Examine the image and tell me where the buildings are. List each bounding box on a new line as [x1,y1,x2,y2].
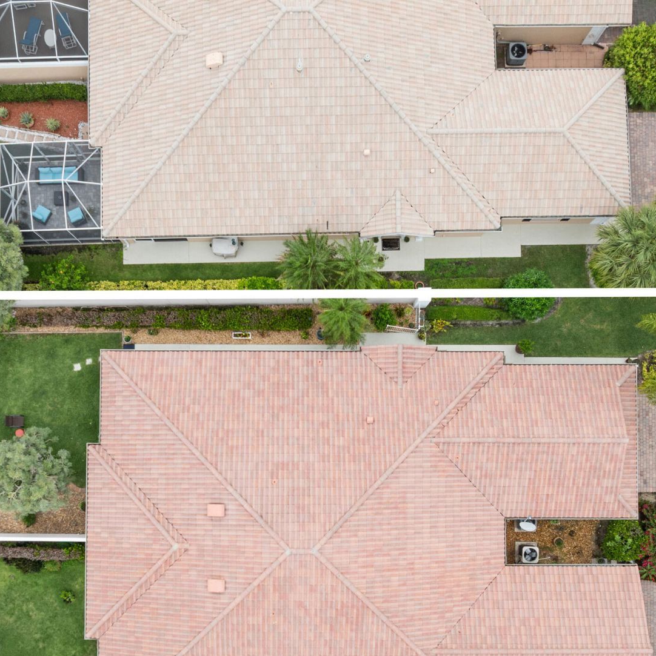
[85,0,634,247]
[83,343,654,656]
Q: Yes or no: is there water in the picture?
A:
No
